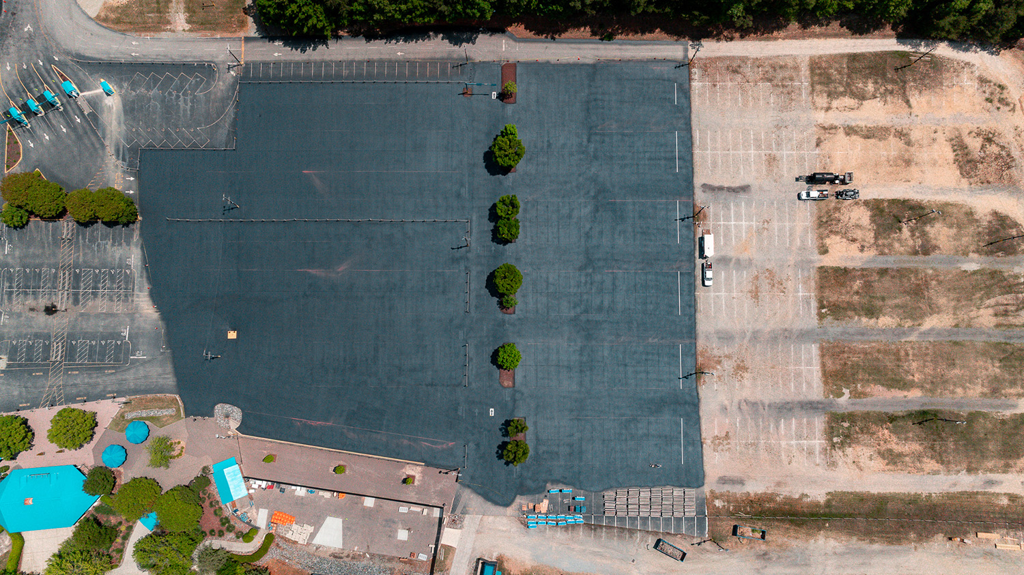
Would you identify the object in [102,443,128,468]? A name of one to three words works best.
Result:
umbrella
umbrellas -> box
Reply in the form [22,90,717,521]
[126,420,150,444]
[102,443,128,468]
